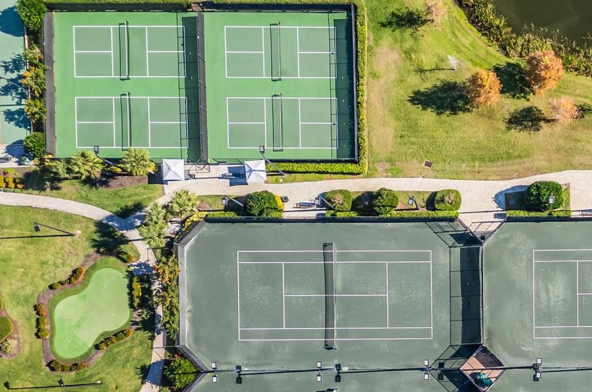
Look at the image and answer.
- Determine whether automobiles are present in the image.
No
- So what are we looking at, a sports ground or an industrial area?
sports ground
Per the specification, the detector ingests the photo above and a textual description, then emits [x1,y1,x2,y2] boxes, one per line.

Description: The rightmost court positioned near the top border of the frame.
[204,11,352,87]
